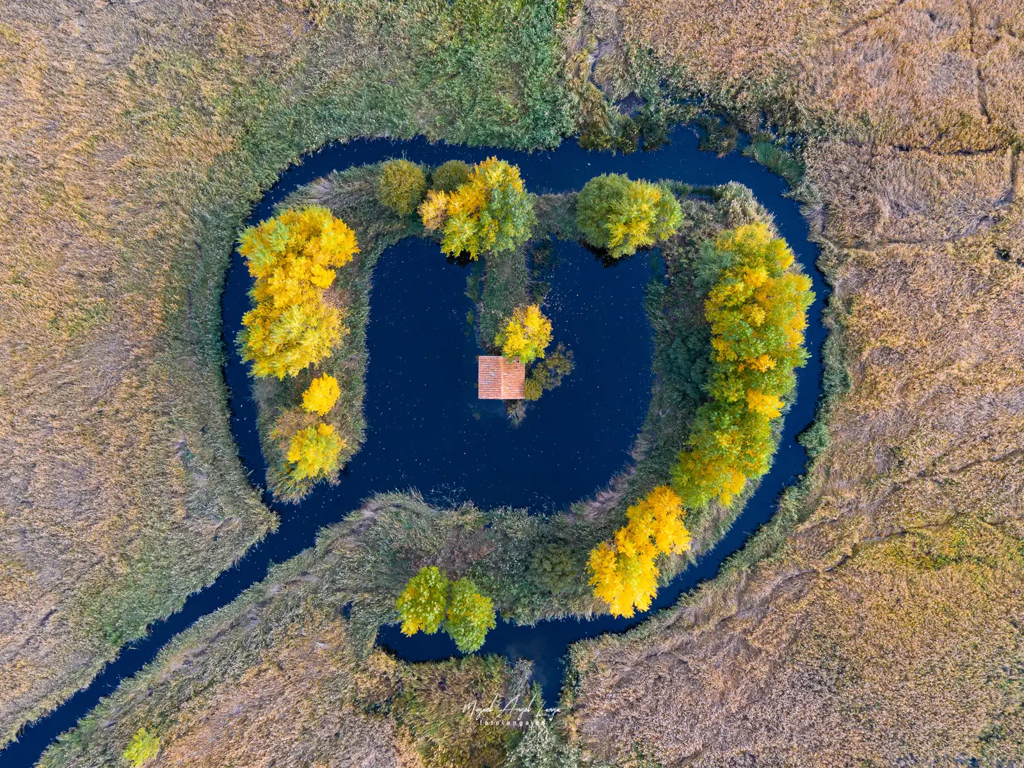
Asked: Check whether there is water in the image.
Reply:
Yes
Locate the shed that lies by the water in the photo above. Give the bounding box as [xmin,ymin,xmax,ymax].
[478,355,526,401]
